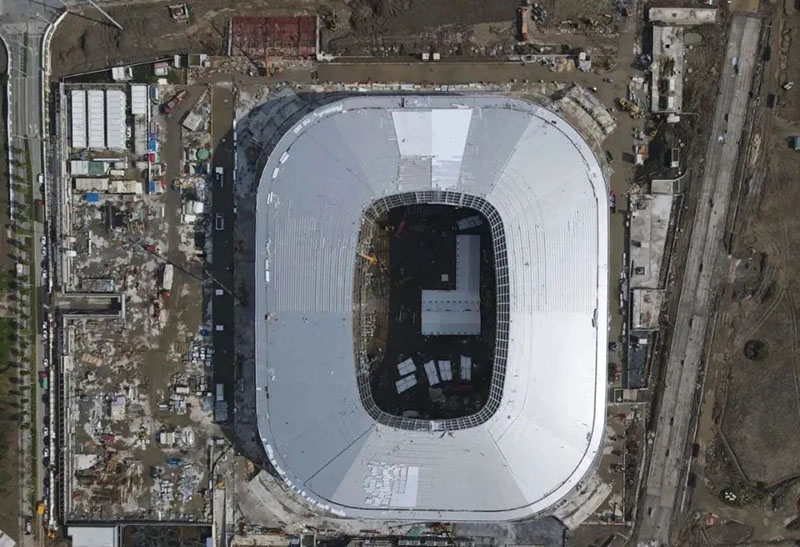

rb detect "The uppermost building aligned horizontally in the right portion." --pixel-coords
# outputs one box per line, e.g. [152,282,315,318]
[646,8,716,26]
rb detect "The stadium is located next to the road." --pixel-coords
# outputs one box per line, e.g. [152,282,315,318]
[235,80,623,547]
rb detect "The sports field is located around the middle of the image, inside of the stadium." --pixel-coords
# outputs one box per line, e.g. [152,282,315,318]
[388,204,497,413]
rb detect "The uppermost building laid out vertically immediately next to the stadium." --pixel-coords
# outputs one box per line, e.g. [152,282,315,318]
[648,25,683,115]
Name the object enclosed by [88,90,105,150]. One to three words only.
building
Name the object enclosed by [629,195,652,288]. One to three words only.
building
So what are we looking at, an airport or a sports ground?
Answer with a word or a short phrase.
sports ground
